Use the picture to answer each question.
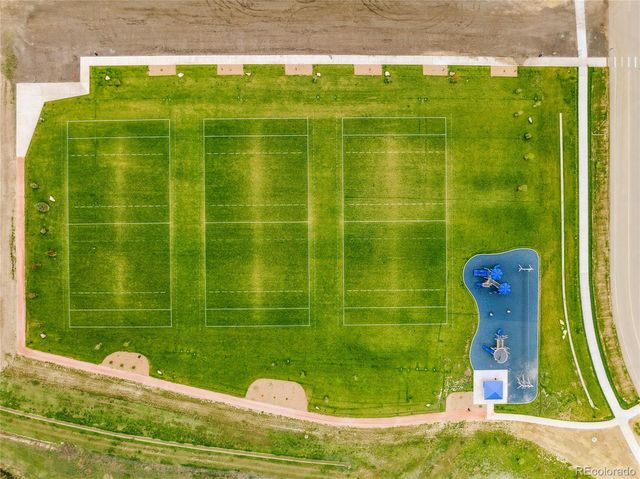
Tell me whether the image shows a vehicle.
No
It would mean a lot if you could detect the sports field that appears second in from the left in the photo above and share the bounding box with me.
[197,117,316,335]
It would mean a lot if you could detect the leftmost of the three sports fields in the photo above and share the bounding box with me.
[61,118,178,334]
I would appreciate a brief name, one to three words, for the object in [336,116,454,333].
sports field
